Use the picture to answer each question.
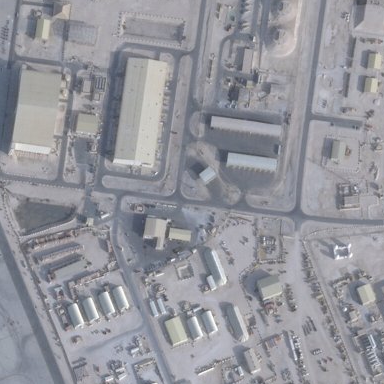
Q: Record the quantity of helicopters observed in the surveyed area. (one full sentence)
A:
No helicopters are visible.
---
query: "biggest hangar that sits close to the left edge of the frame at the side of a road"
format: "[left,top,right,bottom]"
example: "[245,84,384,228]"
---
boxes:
[13,68,59,156]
